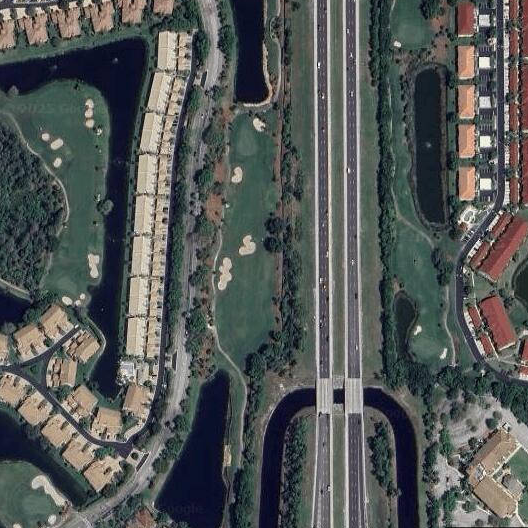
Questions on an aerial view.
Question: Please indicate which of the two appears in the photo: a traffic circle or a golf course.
golf course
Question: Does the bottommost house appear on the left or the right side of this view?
left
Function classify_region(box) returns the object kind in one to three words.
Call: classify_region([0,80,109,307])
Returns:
golf course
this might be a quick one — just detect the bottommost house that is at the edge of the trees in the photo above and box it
[127,507,157,528]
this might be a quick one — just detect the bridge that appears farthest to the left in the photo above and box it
[316,377,333,413]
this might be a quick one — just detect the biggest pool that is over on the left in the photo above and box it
[121,359,135,379]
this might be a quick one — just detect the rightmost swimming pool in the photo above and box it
[458,205,478,226]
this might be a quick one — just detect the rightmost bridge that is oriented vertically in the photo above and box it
[345,377,363,413]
